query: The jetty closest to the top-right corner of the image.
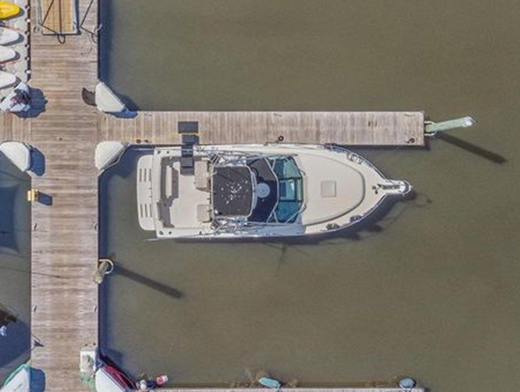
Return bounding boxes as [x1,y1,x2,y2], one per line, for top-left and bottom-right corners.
[99,111,438,146]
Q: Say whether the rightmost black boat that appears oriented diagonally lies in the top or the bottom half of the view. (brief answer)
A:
bottom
